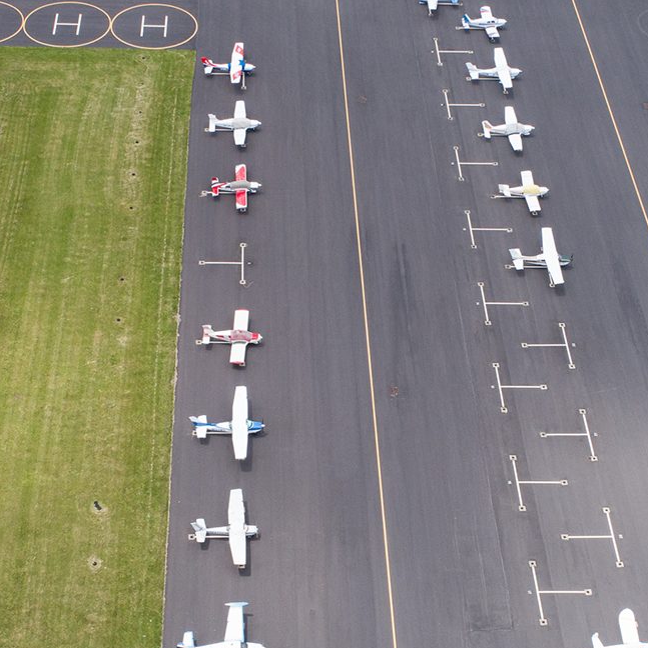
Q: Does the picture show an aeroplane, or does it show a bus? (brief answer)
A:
aeroplane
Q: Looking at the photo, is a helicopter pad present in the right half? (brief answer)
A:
No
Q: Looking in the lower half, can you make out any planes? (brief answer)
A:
Yes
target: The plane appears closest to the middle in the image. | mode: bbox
[202,310,262,365]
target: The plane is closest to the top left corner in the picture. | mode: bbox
[201,42,256,82]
